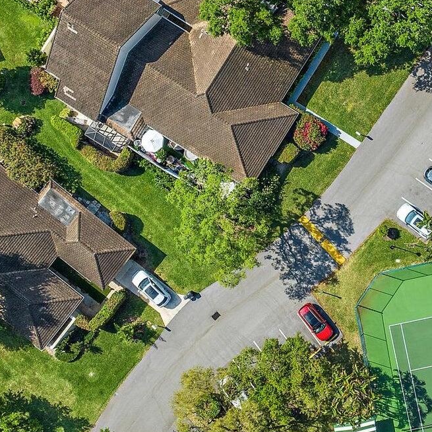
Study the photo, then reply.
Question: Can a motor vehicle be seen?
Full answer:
Yes, the photo shows a motor vehicle.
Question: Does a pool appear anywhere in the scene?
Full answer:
No, there appears to be no pool in this shot.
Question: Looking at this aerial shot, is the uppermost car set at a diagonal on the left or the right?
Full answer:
The uppermost car set at a diagonal appears in the right half of the scene.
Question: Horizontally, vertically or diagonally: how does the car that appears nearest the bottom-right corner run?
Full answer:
In this picture, the car that appears nearest the bottom-right corner is oriented diagonally.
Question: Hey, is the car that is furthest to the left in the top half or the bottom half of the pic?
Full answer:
The car that is furthest to the left is in the bottom half of the image.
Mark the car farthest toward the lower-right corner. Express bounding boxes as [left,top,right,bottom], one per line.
[298,302,333,343]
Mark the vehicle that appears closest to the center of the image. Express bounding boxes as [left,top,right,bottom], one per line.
[131,270,173,310]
